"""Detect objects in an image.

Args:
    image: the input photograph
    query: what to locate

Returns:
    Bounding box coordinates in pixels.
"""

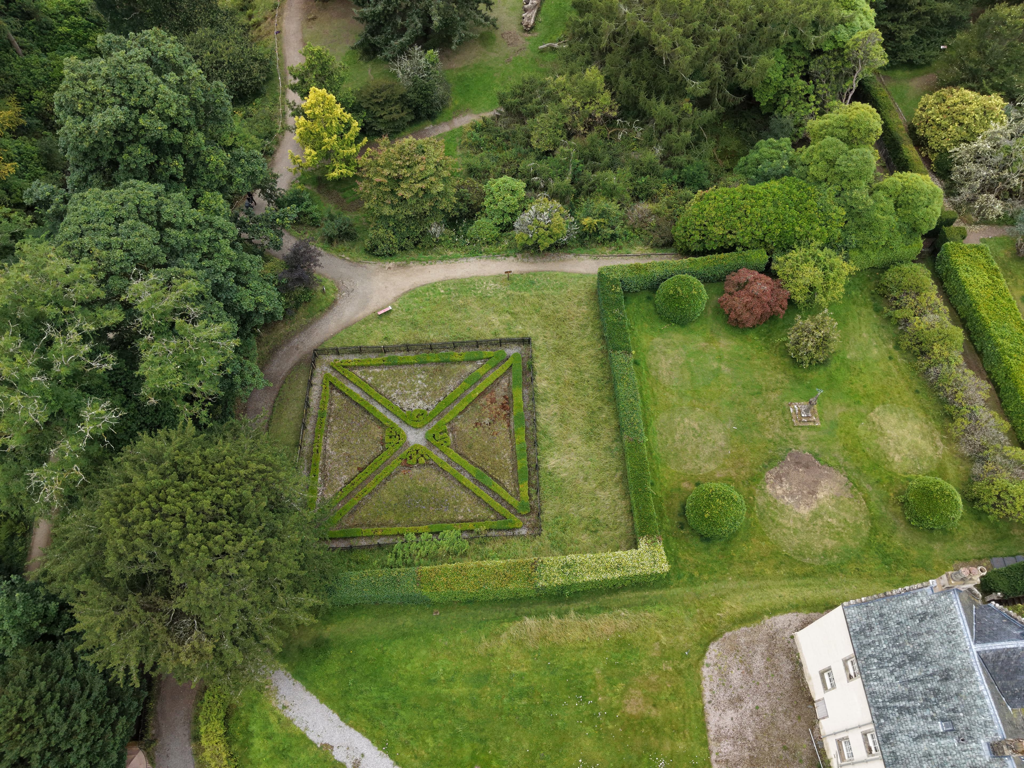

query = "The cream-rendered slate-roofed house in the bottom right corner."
[792,567,1024,768]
